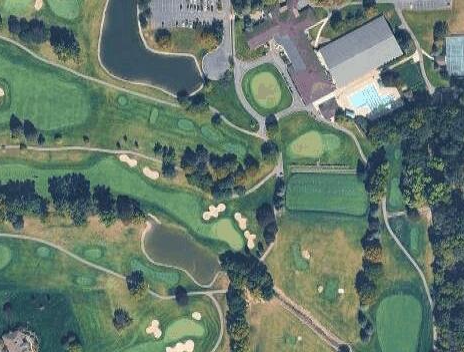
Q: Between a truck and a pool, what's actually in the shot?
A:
pool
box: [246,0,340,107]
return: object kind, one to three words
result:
building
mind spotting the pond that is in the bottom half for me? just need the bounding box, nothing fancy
[144,221,222,286]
